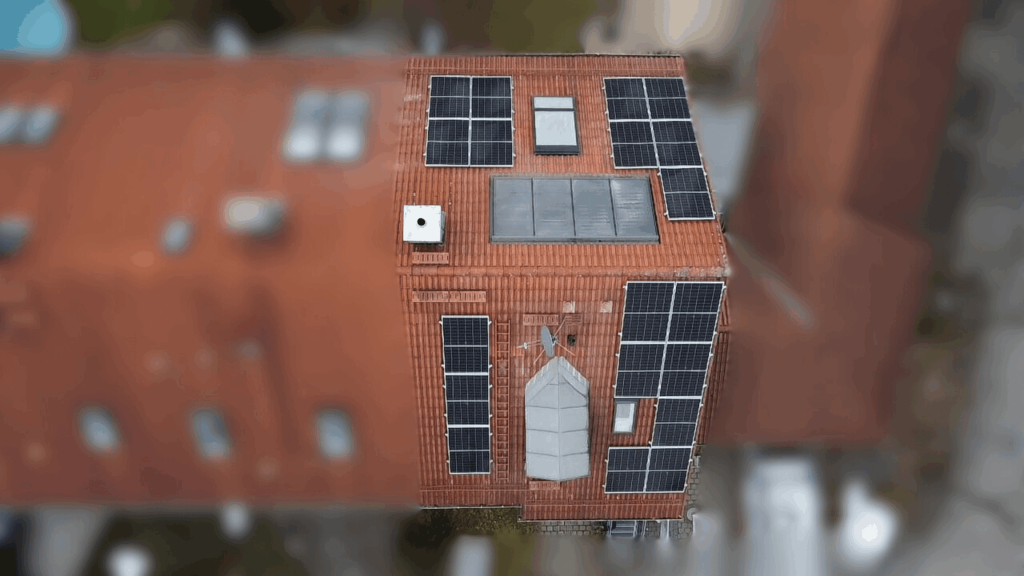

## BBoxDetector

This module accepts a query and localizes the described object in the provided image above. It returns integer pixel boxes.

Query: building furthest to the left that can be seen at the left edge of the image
[0,51,240,515]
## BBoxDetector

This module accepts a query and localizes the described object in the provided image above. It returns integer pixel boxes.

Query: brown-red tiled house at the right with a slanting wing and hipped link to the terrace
[698,0,983,448]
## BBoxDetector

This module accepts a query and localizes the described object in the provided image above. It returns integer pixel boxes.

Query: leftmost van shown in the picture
[739,450,819,576]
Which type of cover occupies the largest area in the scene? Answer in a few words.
buildings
